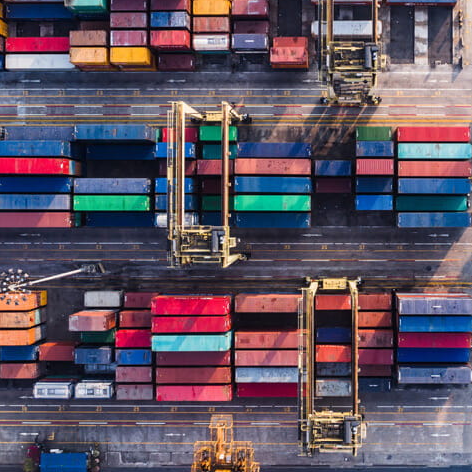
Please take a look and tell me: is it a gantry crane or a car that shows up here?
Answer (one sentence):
The one in the frame is a gantry crane.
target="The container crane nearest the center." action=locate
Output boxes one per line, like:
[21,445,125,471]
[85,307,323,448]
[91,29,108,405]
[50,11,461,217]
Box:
[163,95,260,276]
